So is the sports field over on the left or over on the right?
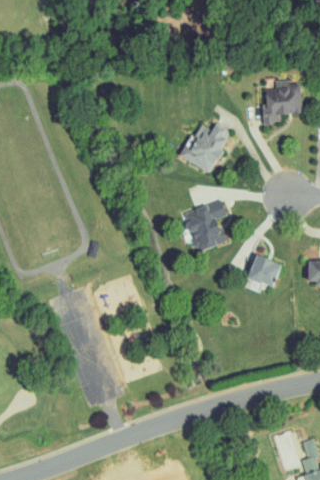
left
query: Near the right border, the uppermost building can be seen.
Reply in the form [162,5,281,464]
[264,79,304,126]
